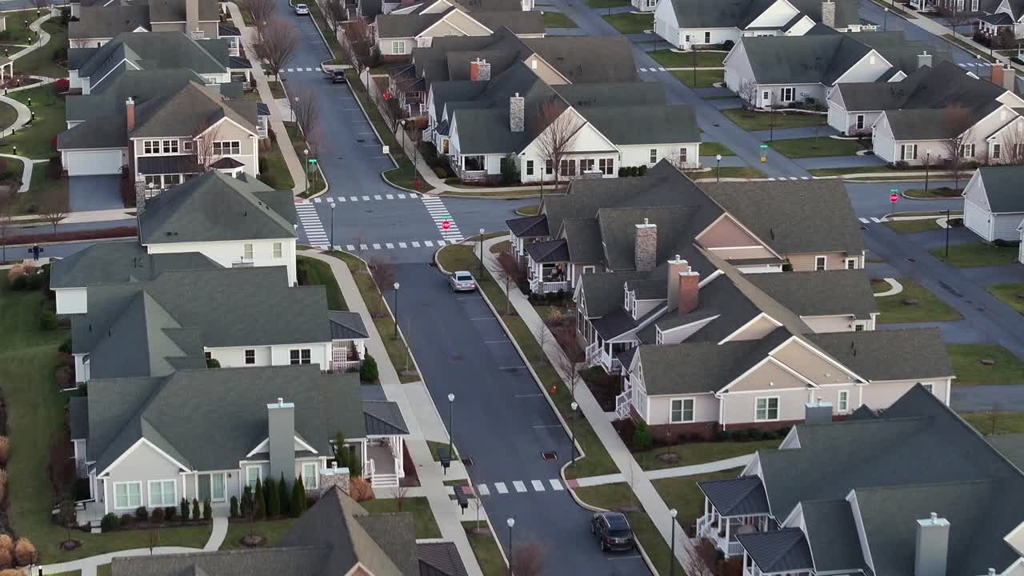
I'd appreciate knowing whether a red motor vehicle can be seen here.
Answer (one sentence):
No, the picture doesn't show any red motor vehicle.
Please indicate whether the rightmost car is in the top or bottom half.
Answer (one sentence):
You can find the rightmost car in the bottom half.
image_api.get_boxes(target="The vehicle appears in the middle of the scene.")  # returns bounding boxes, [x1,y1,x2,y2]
[451,271,480,294]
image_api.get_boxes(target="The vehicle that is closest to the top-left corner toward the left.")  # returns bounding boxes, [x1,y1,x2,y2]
[297,4,312,17]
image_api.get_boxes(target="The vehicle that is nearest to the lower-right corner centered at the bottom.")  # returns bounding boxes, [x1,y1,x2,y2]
[590,510,639,554]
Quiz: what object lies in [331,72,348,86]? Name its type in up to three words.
car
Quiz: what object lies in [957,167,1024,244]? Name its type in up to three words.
house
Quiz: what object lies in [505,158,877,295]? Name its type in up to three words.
house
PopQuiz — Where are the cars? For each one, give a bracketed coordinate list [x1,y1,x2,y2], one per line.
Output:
[590,510,639,554]
[297,4,312,17]
[451,271,480,294]
[331,72,348,86]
